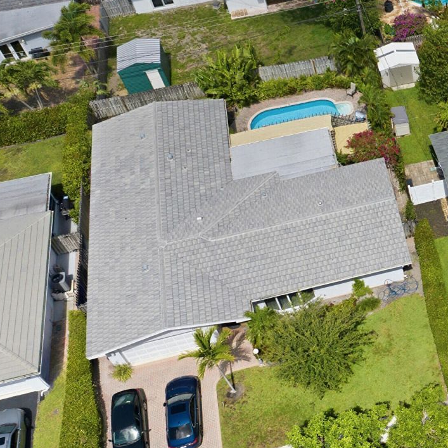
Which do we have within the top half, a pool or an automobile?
pool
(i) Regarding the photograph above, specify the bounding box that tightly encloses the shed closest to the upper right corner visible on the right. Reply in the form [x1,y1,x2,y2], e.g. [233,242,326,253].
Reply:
[378,40,417,88]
